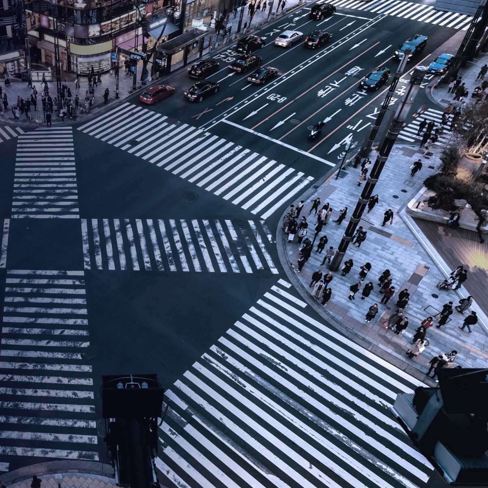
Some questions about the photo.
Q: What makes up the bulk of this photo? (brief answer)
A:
paved ground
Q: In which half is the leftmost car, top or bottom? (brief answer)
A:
top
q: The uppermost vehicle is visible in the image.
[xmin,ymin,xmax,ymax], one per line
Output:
[310,1,337,17]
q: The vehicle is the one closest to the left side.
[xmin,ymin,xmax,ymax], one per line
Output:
[139,83,175,103]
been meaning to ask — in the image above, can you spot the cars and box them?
[310,1,337,17]
[230,53,262,72]
[396,29,429,57]
[274,27,306,46]
[236,29,267,52]
[359,63,395,89]
[246,63,280,83]
[183,80,220,100]
[305,29,334,47]
[187,58,221,78]
[139,83,175,103]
